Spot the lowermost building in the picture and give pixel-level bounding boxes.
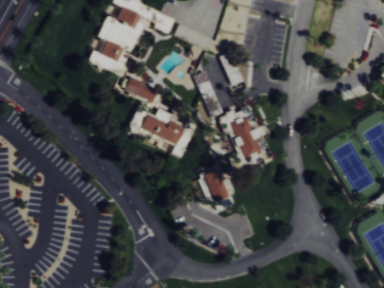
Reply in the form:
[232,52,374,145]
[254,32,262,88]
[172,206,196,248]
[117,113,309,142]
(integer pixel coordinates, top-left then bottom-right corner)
[196,172,235,205]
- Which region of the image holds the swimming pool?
top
